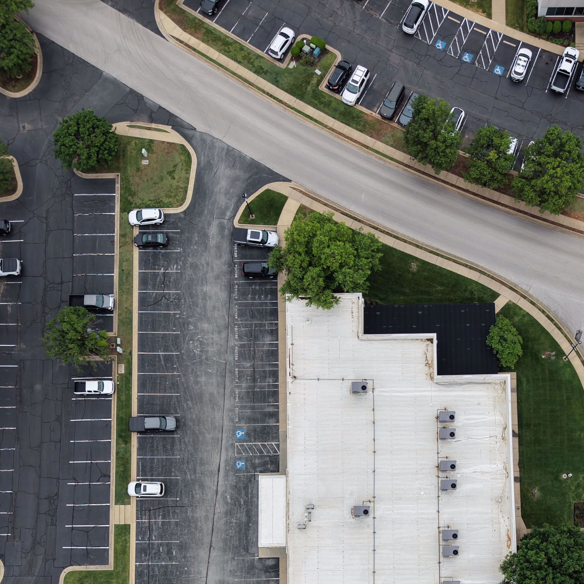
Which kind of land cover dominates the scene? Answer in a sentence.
Most of the picture is covered by paved ground.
